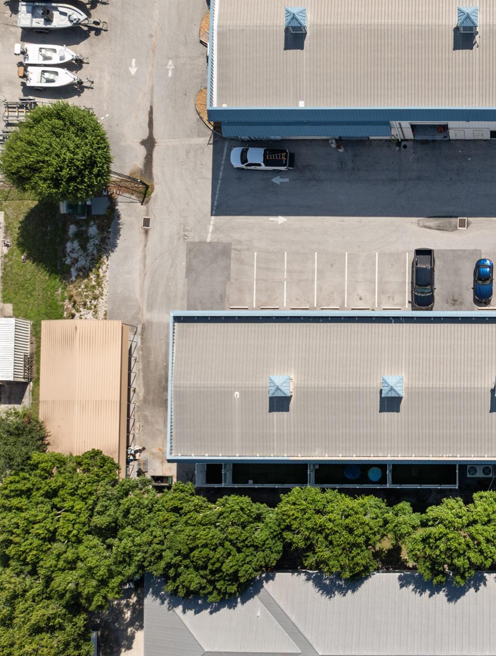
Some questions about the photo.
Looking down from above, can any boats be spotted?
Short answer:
Yes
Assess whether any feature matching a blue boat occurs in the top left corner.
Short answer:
No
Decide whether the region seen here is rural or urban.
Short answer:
urban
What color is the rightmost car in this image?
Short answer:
blue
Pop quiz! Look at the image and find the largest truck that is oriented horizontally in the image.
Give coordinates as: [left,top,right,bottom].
[229,142,297,171]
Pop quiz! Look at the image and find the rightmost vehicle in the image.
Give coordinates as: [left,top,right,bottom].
[473,258,496,303]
